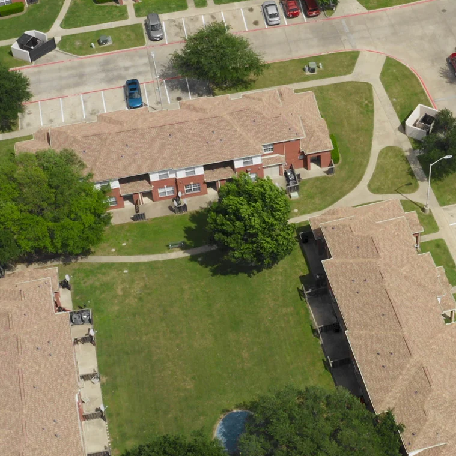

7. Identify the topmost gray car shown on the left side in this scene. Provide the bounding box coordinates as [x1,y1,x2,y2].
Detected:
[146,11,163,39]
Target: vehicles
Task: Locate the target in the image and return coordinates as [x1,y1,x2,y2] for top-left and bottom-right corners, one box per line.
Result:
[280,0,301,18]
[448,53,456,77]
[125,79,143,108]
[146,11,163,39]
[261,0,281,26]
[301,0,321,17]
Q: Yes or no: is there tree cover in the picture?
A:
Yes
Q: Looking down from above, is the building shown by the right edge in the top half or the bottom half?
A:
bottom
